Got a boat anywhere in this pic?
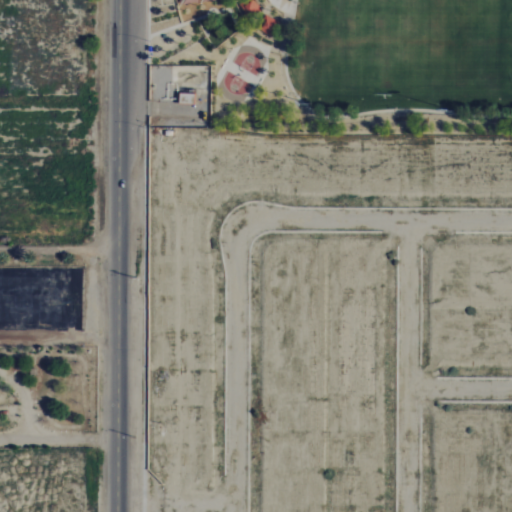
No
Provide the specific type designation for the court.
basketball court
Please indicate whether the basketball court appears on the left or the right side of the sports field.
left of it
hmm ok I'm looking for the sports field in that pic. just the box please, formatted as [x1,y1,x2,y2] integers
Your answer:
[287,0,512,116]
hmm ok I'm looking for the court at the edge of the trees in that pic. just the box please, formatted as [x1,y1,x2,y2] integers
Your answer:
[216,37,272,104]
